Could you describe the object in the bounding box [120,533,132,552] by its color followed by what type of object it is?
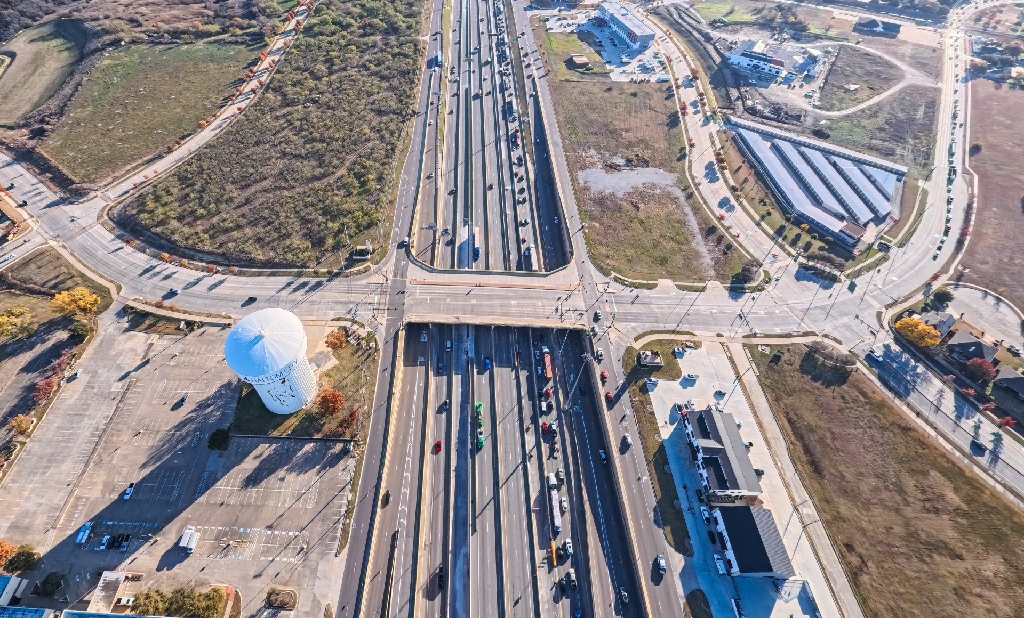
blue vehicle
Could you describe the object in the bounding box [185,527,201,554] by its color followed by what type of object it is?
white vehicle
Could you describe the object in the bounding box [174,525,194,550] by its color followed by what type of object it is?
white vehicle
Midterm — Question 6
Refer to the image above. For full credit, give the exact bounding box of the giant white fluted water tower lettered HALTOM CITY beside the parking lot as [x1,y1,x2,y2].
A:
[225,309,319,415]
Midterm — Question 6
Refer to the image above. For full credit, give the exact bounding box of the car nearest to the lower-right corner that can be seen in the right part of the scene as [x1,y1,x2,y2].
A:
[971,439,987,451]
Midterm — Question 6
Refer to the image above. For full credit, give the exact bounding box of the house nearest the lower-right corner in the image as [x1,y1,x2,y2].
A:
[992,365,1024,409]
